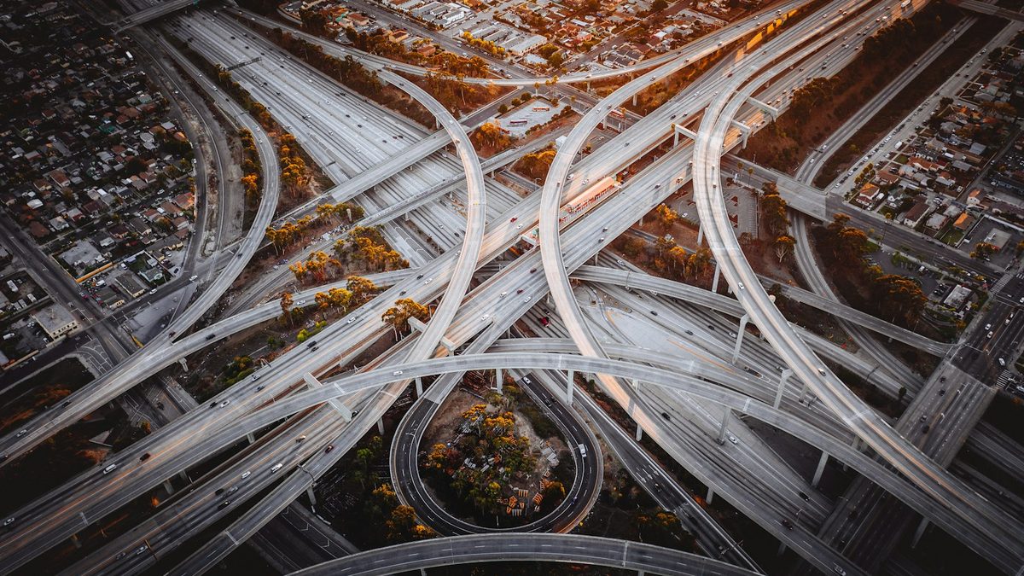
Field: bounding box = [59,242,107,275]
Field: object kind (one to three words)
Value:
building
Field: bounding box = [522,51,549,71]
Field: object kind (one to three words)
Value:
building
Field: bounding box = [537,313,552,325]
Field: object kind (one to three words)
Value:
vehicle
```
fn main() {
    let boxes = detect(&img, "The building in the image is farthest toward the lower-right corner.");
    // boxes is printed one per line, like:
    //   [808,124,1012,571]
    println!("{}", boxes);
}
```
[943,283,977,312]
